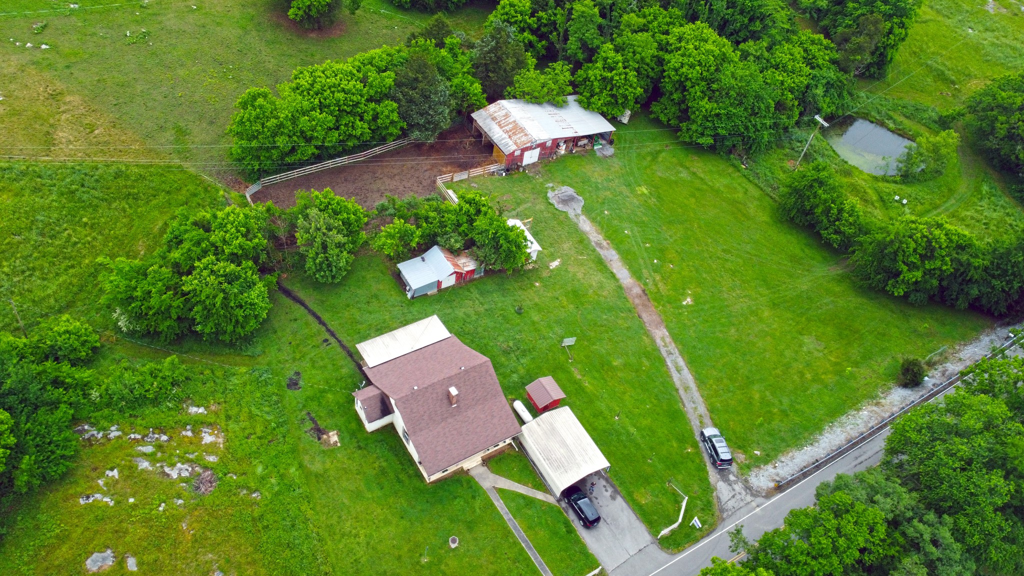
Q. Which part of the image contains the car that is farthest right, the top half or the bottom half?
bottom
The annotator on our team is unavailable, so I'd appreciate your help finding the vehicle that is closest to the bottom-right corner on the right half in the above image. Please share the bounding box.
[699,426,733,470]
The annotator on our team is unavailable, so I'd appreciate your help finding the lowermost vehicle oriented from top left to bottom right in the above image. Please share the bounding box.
[562,483,604,532]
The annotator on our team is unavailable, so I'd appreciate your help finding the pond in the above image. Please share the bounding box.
[822,119,923,177]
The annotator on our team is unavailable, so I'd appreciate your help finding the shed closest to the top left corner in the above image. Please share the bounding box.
[398,246,477,297]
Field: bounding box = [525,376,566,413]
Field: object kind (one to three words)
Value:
shed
